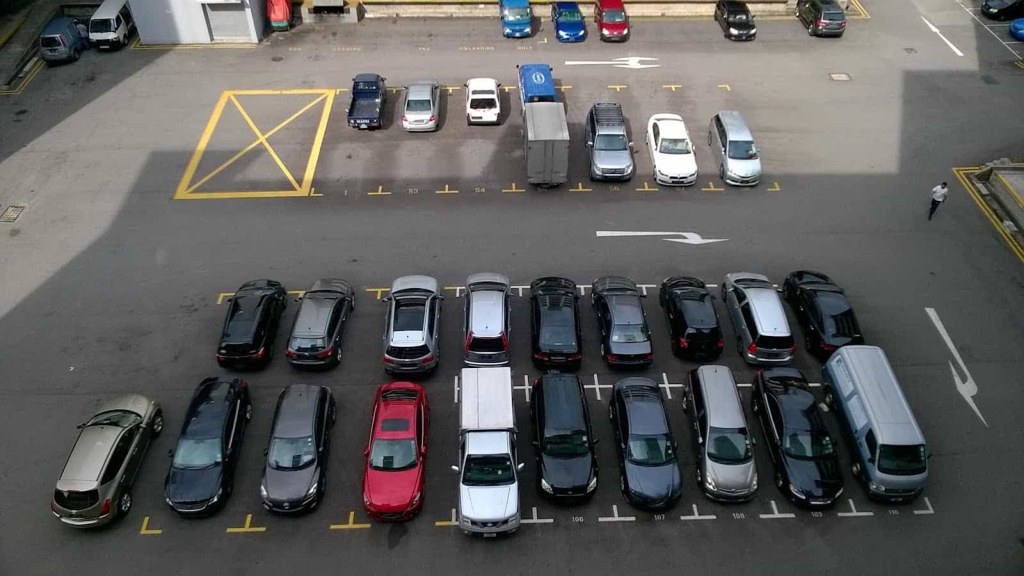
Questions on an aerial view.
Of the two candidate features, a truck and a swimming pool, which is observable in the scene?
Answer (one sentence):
Looking from above, you can make out a truck.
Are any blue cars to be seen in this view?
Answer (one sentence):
Yes, the frame does contain a blue car.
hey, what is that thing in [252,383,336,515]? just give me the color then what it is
gray car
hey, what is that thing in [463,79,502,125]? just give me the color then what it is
white car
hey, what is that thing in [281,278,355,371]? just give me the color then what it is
gray car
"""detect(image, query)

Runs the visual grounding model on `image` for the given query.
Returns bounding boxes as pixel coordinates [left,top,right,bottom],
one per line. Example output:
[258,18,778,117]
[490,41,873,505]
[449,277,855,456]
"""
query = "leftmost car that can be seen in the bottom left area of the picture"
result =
[43,397,166,533]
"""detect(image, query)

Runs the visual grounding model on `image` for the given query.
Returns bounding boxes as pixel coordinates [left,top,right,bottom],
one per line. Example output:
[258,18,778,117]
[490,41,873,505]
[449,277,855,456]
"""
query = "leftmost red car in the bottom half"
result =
[357,382,432,523]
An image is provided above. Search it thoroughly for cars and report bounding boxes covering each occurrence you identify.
[530,375,603,505]
[463,79,502,125]
[594,0,632,42]
[252,383,336,515]
[983,0,1024,22]
[357,382,432,523]
[790,0,849,36]
[712,0,757,40]
[756,372,850,509]
[43,397,166,533]
[682,369,763,503]
[647,115,701,186]
[281,278,355,371]
[661,275,726,361]
[382,275,443,372]
[159,378,253,519]
[707,112,765,186]
[609,377,689,511]
[1008,13,1024,37]
[592,275,656,367]
[784,264,870,358]
[458,276,518,370]
[400,76,443,131]
[38,15,95,59]
[524,276,584,369]
[585,97,635,179]
[500,0,535,37]
[553,0,589,42]
[723,272,797,367]
[211,278,288,370]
